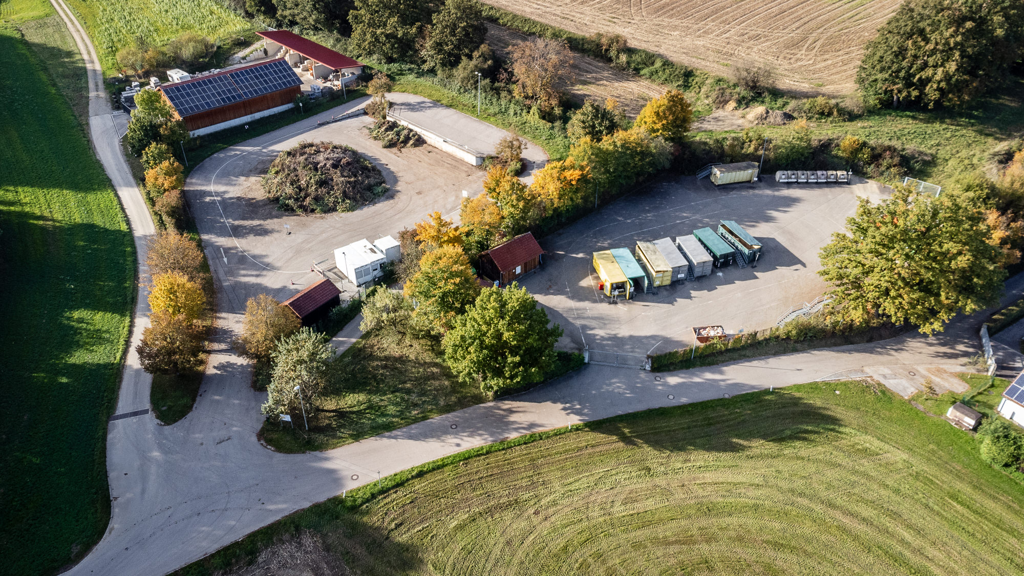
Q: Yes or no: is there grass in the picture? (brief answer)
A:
Yes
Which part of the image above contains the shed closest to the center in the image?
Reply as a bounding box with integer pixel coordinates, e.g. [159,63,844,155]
[480,232,544,285]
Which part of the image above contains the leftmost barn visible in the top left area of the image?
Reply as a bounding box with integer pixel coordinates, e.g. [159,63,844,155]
[152,57,303,135]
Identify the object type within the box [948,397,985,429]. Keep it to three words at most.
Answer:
shed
